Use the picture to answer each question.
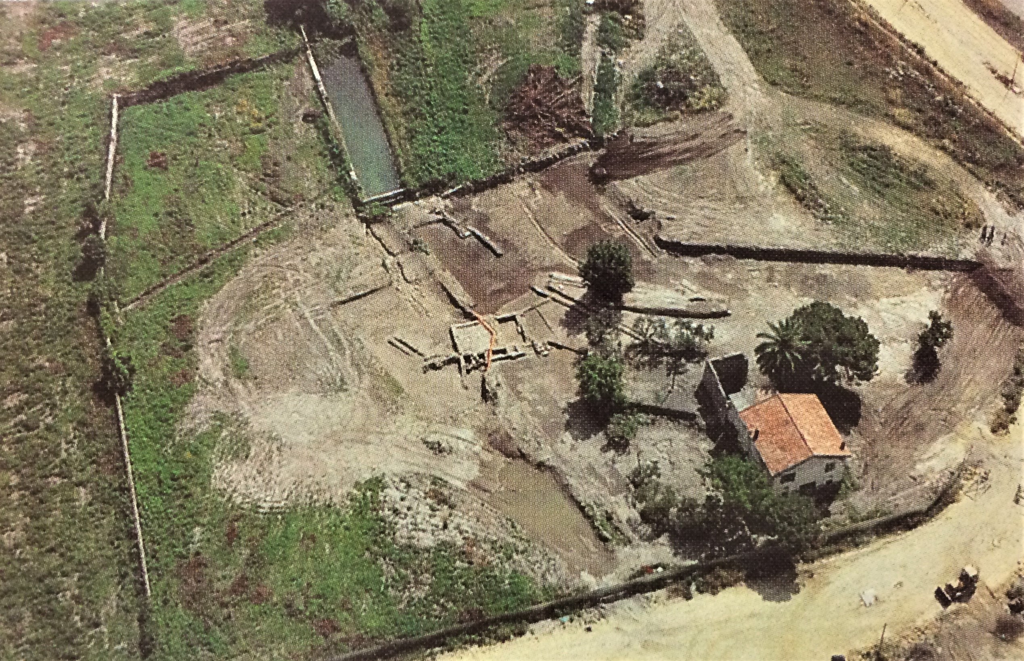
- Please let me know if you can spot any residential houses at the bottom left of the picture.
No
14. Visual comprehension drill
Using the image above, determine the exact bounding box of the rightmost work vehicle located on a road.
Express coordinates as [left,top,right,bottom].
[938,568,984,606]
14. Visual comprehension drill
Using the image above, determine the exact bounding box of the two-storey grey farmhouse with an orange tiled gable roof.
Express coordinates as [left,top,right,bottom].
[716,393,852,496]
